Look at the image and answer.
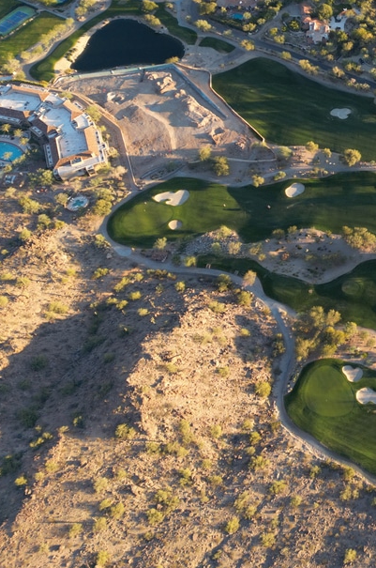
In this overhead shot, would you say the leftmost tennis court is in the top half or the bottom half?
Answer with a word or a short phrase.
top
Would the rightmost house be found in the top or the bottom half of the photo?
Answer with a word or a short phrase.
top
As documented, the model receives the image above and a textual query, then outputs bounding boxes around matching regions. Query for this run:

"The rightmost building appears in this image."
[300,5,330,48]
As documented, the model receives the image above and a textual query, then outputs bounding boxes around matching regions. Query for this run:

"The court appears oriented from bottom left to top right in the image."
[0,4,38,36]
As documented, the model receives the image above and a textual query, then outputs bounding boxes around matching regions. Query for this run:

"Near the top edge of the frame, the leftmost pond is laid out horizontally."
[70,20,184,72]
